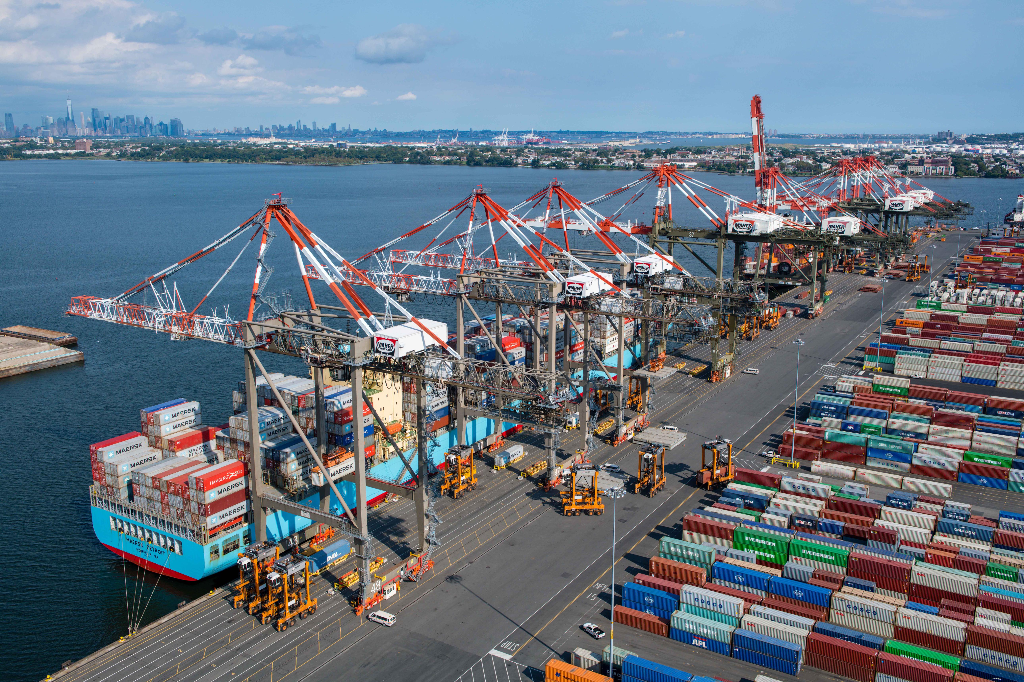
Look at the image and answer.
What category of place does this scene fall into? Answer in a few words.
port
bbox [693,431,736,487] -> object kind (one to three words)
work vehicle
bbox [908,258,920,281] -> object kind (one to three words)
vehicle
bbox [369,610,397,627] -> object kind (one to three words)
vehicle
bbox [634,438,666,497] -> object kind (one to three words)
work vehicle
